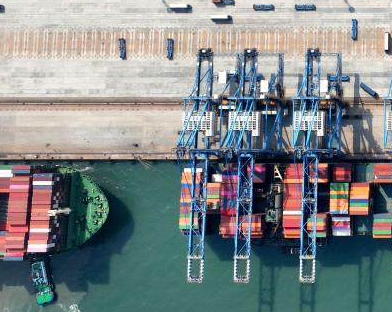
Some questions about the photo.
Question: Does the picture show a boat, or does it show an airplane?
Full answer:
Of the two, only a boat appears.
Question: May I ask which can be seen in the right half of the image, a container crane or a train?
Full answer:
Looking in the right half of the image, you will find a container crane.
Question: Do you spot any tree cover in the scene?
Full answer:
No, there's no tree cover in this view.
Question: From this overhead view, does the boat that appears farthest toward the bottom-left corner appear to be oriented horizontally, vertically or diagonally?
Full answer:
The boat that appears farthest toward the bottom-left corner runs vertically in the image.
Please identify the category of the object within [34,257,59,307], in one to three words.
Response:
boat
